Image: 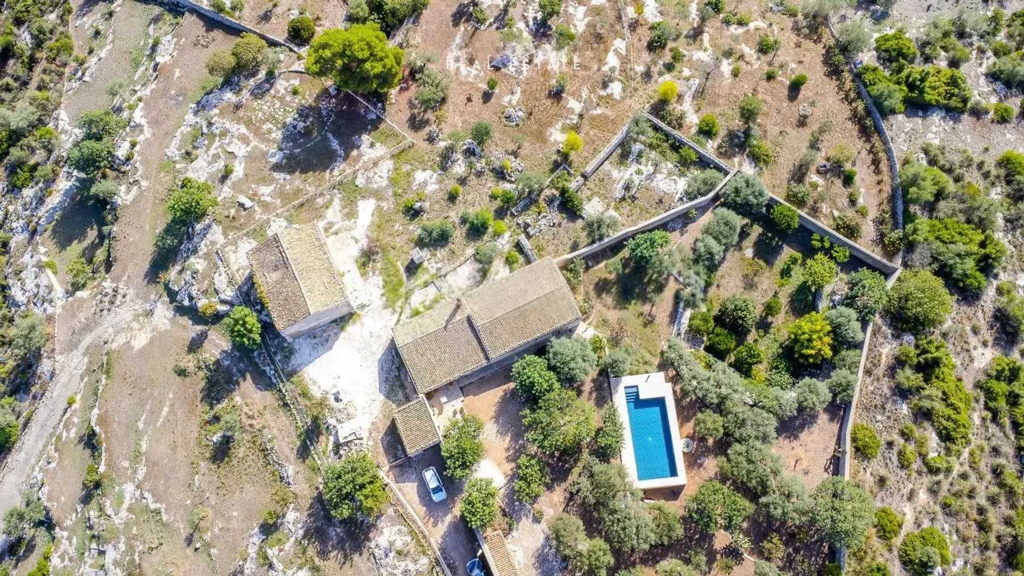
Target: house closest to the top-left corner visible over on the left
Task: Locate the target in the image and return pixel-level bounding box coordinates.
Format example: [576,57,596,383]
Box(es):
[247,223,353,339]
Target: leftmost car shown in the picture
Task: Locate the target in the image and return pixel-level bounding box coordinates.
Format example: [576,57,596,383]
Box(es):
[422,465,447,505]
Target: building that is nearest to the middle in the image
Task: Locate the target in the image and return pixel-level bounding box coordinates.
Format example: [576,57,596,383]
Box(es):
[393,258,581,398]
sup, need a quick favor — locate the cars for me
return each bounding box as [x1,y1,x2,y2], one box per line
[467,555,486,576]
[422,465,447,505]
